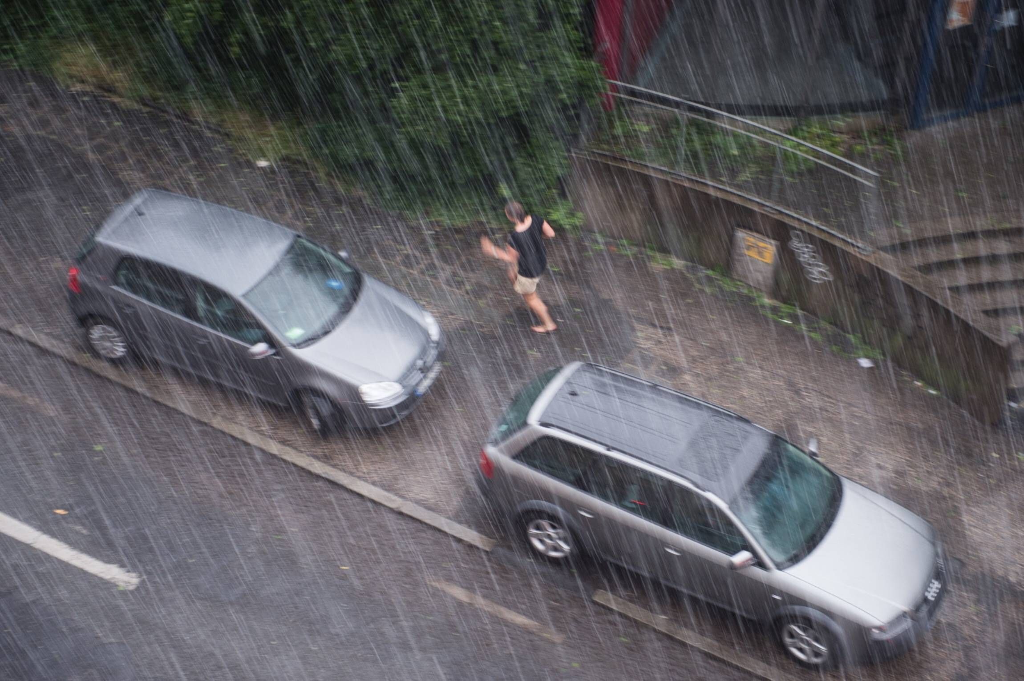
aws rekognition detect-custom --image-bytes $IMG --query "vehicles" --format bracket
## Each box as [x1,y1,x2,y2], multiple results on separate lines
[487,362,949,667]
[72,186,442,440]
